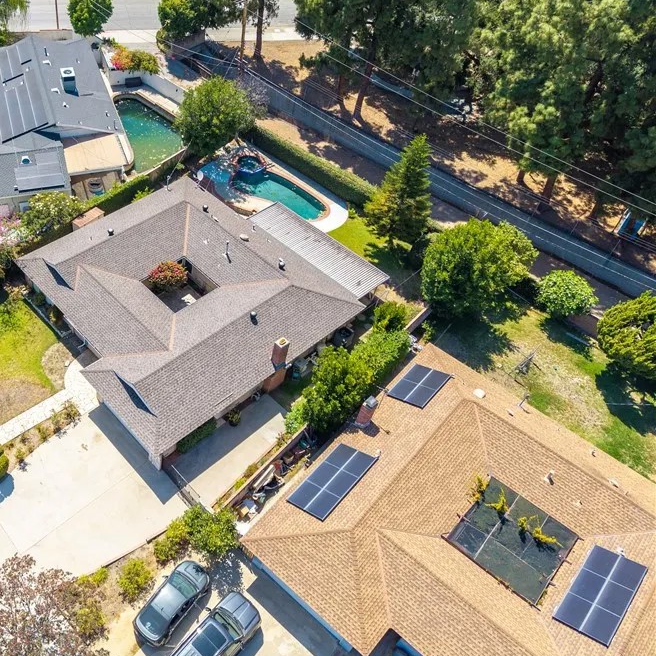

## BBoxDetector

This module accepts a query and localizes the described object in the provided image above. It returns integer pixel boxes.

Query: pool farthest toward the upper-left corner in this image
[111,91,189,173]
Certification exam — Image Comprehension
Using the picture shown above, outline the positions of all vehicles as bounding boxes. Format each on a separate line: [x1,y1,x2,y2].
[179,597,263,656]
[135,561,211,651]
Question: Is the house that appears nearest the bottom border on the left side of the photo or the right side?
right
